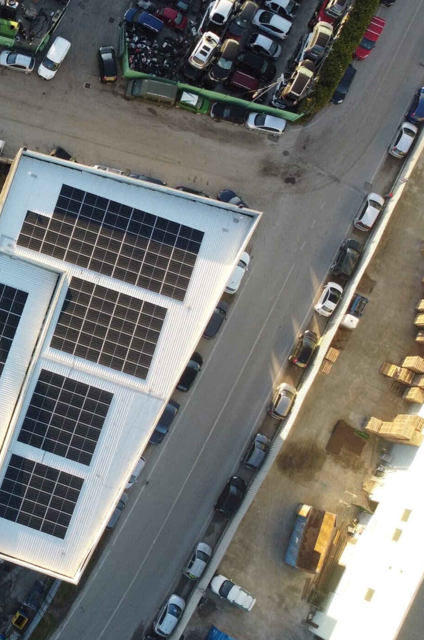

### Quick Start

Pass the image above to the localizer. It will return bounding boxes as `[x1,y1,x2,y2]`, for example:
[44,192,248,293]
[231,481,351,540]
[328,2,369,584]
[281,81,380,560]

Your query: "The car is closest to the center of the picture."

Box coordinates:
[200,301,229,340]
